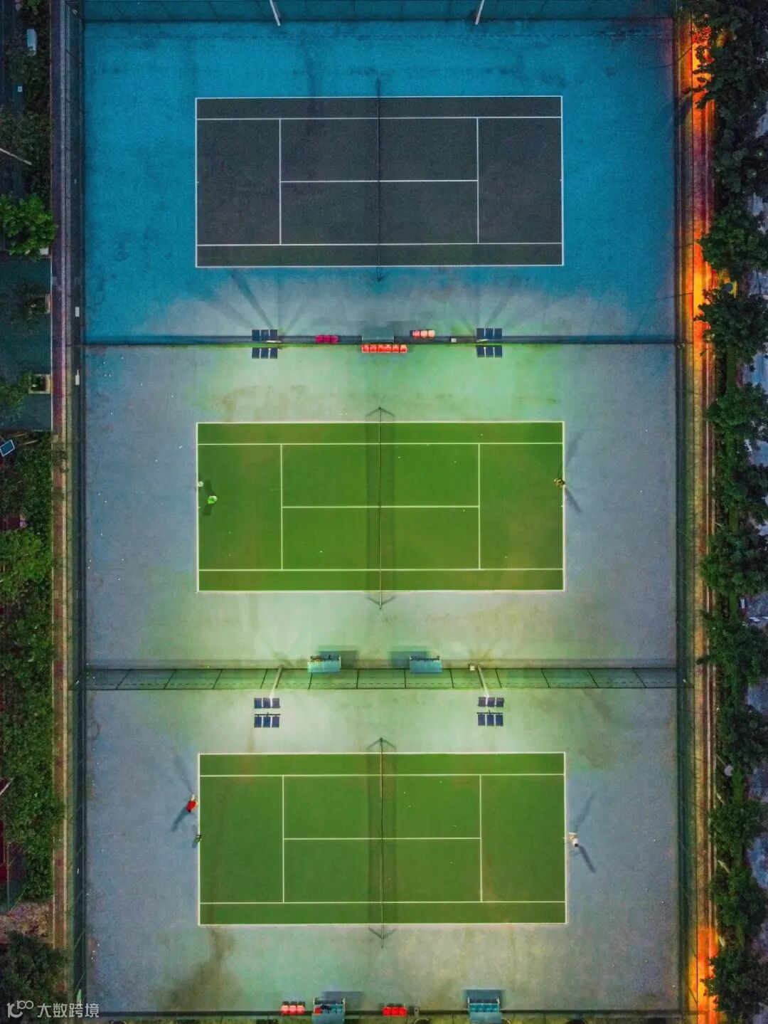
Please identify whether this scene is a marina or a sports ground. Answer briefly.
sports ground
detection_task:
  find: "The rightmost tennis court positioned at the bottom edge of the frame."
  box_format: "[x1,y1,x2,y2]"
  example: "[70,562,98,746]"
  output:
[86,667,677,1014]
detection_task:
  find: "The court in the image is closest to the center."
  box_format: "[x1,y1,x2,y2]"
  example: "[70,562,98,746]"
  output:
[85,346,676,670]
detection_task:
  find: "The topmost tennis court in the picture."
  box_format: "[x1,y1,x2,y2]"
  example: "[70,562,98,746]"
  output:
[83,0,674,345]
